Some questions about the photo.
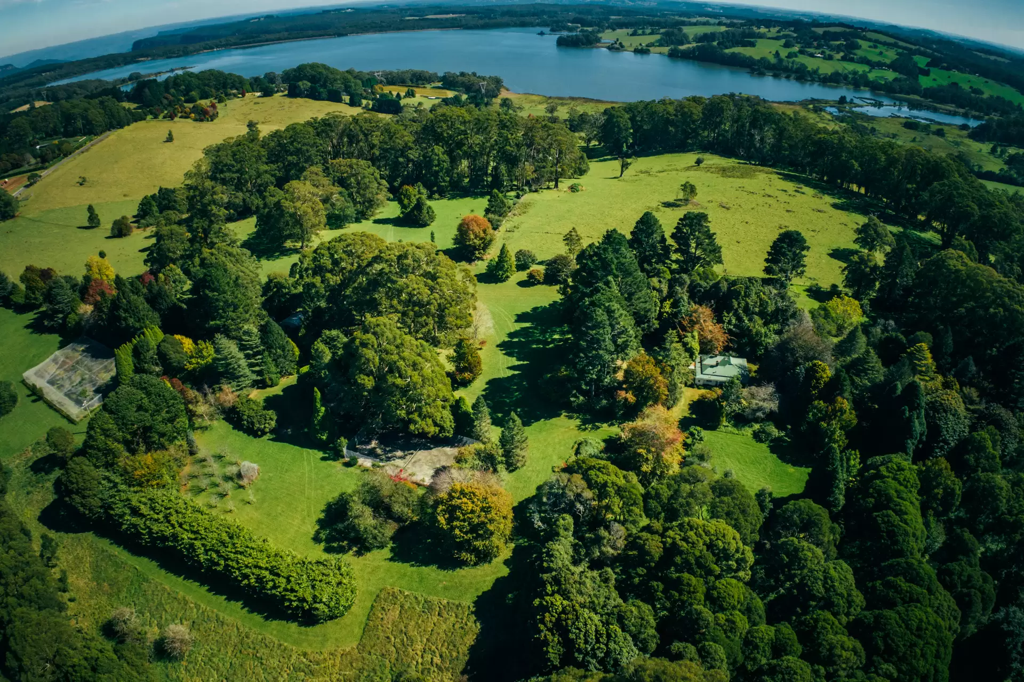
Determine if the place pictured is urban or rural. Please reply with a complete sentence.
The area is rural.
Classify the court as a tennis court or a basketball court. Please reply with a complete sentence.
It looks like the court is a tennis court.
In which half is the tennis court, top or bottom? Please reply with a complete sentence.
It is in the bottom half that the tennis court appears.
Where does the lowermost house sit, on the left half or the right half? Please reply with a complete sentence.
The lowermost house is on the right side of the image.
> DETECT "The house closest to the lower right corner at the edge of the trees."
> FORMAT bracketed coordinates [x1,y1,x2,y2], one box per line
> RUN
[687,347,749,388]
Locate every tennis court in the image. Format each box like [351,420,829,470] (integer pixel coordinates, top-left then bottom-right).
[345,421,475,488]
